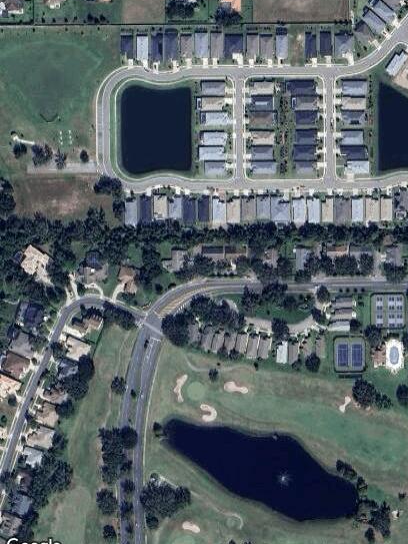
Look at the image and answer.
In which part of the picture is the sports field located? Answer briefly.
top left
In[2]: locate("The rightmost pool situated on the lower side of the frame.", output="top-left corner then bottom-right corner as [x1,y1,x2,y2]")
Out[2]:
[386,338,403,373]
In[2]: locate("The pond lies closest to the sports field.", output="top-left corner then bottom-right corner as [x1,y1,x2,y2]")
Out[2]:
[121,87,191,173]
